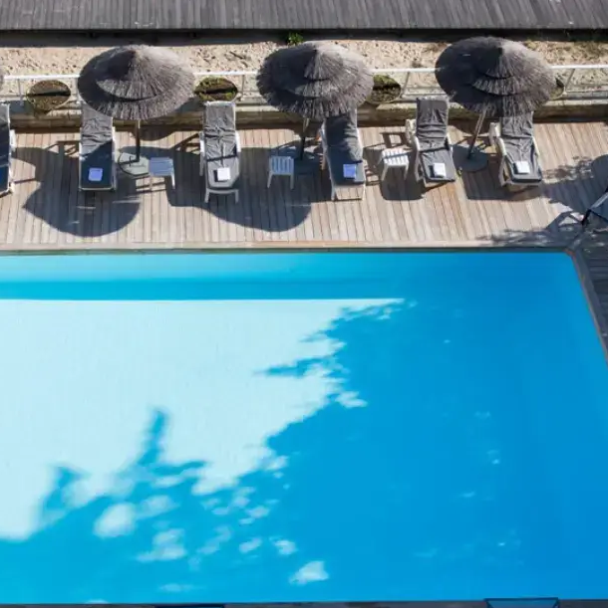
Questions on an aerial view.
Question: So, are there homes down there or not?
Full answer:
No, this view has no home in it.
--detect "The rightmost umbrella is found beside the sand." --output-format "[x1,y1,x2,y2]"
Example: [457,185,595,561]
[439,41,556,172]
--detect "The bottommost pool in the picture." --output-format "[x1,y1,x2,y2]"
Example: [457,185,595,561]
[0,256,608,607]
